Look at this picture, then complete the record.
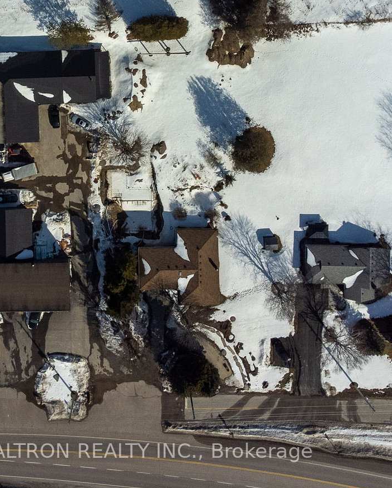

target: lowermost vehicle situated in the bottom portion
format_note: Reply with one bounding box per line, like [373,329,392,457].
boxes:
[27,312,40,328]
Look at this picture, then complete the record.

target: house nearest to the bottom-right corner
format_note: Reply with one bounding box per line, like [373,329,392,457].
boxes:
[303,243,391,302]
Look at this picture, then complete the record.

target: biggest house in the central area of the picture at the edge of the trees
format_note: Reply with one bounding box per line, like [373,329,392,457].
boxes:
[137,228,220,305]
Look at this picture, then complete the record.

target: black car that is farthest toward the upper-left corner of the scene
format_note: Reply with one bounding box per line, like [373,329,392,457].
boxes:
[48,104,62,128]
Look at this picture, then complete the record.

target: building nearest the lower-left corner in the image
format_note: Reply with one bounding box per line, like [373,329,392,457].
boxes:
[0,258,70,312]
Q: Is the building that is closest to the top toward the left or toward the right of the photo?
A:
left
